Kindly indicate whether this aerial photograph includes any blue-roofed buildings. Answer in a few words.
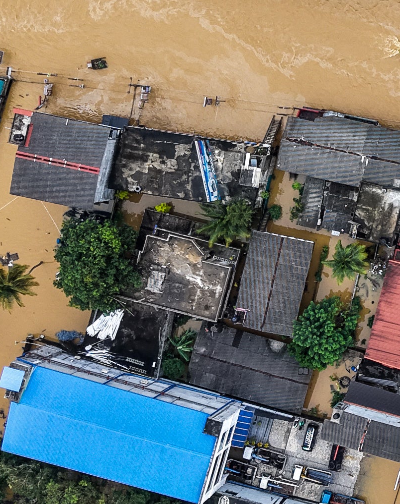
Yes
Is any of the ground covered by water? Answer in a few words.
Yes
